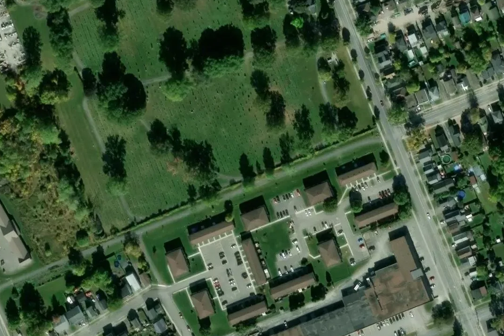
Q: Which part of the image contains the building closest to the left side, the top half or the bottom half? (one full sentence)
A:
Seen from above, the building closest to the left side lies in the bottom half of the view.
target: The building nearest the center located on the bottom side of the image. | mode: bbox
[239,205,271,232]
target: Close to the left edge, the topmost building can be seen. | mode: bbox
[0,208,32,265]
